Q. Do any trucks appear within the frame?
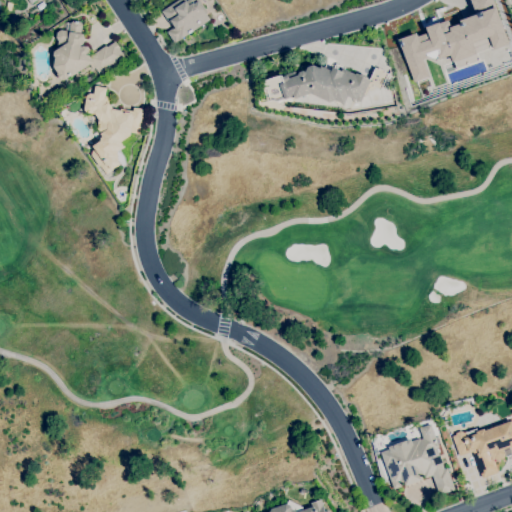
No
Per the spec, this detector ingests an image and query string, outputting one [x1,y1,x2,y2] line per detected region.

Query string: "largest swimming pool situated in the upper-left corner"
[34,46,50,76]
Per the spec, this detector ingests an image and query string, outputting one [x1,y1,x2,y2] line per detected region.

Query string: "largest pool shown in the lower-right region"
[451,411,474,426]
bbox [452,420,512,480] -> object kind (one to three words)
house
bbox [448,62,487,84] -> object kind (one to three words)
swimming pool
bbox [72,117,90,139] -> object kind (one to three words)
swimming pool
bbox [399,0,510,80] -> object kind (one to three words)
house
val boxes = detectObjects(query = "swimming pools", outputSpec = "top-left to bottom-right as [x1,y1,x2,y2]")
[388,431,408,440]
[34,46,50,76]
[451,411,474,426]
[448,62,487,84]
[72,117,90,139]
